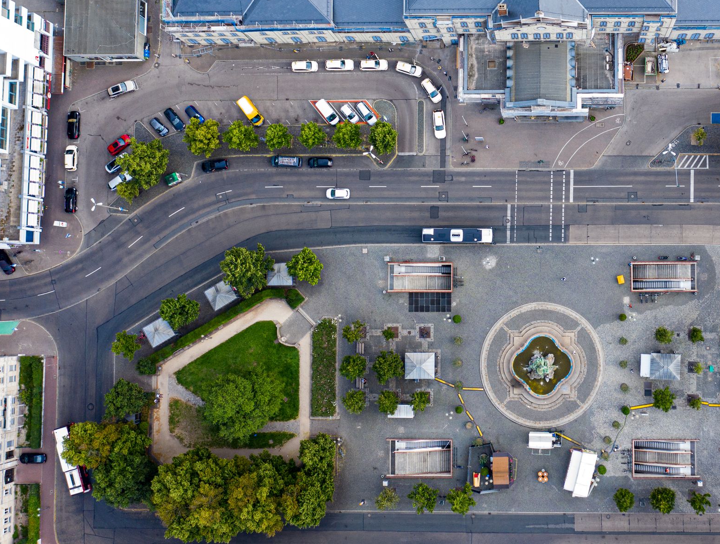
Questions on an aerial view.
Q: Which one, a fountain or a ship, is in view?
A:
fountain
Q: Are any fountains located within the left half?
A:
No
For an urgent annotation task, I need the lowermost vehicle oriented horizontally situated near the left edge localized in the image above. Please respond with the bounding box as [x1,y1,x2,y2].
[20,453,47,465]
